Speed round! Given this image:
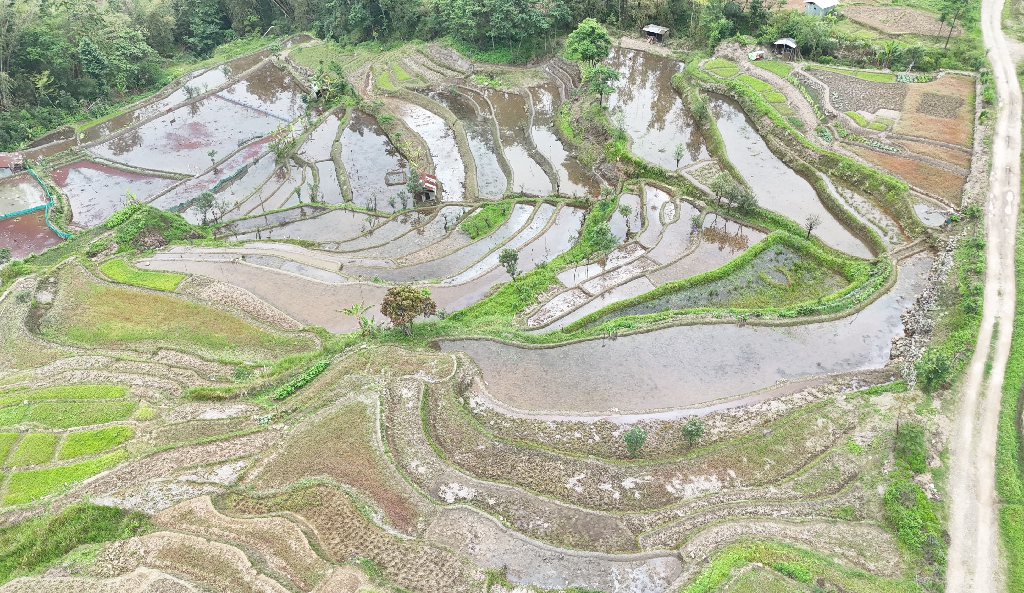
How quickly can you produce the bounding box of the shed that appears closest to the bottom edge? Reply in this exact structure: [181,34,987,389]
[416,170,439,197]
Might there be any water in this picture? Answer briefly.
Yes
